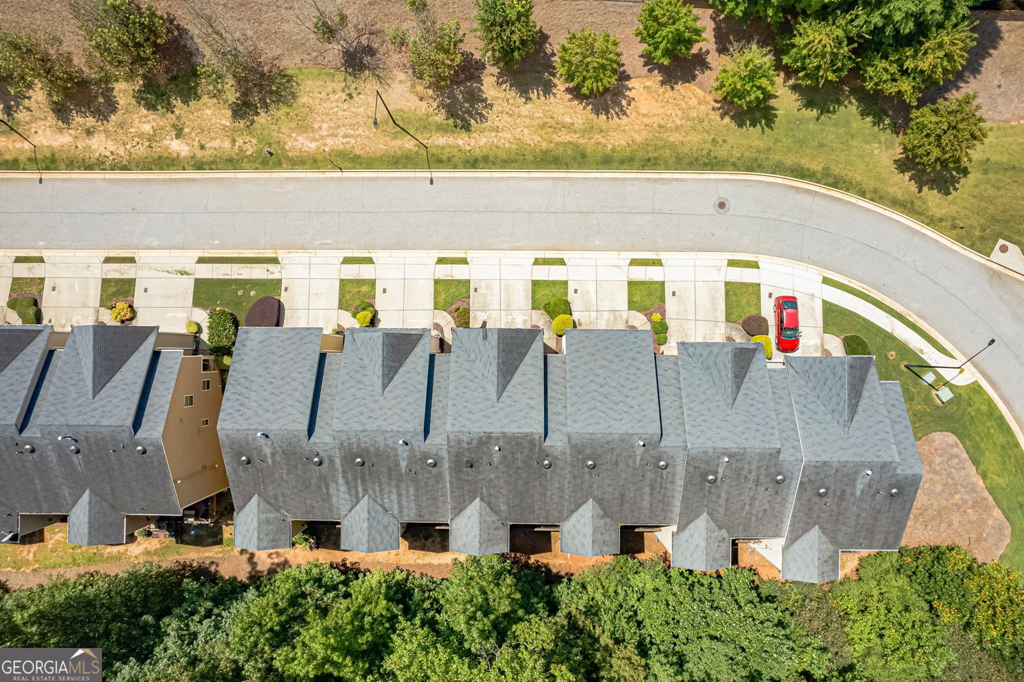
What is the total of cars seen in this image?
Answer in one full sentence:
I count 1 car.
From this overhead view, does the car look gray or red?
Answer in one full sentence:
The car is red.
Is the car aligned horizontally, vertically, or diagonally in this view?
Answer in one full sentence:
The car is oriented vertically.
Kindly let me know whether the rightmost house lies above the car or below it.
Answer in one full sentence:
In the image, the rightmost house appears below the car.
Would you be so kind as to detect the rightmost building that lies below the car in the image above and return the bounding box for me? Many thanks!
[747,355,924,583]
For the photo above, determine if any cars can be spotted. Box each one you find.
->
[772,296,801,353]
